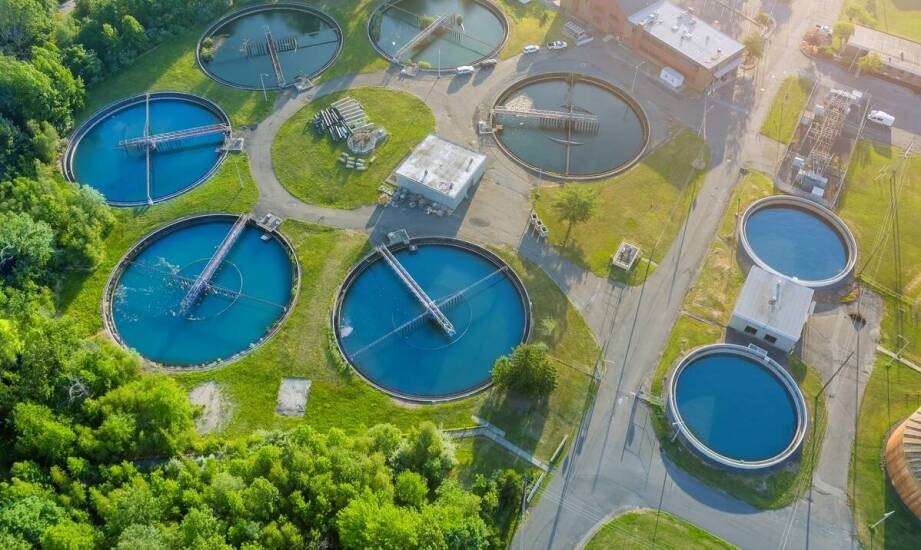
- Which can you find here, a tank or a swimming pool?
tank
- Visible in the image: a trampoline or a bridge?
bridge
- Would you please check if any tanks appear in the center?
Yes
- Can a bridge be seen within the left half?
Yes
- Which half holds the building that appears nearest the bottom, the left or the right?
right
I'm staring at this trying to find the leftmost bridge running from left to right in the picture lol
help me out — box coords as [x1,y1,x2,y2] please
[117,120,233,149]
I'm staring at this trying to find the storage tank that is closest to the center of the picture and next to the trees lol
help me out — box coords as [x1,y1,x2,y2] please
[332,221,532,403]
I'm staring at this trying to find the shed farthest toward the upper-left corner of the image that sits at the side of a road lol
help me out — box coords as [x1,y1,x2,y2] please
[395,133,487,212]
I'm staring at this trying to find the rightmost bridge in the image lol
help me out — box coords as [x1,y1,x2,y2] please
[490,102,600,126]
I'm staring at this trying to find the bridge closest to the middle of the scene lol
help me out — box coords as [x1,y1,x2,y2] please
[374,240,454,335]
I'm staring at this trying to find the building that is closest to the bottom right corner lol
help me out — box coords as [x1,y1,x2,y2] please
[726,265,814,352]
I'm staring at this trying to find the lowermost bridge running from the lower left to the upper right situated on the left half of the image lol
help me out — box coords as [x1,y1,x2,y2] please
[181,208,250,312]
